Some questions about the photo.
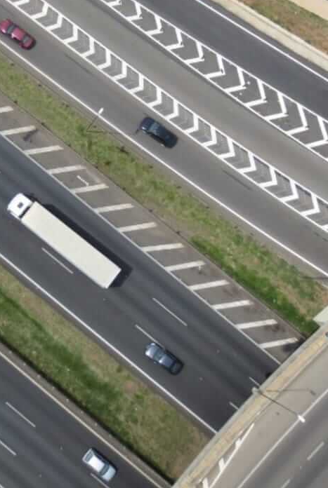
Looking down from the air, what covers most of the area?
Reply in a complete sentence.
The bulk of the photo consists of paved ground.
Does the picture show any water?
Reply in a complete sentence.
No, there is no water in the image.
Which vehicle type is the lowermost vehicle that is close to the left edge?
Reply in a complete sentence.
What you see as the lowermost vehicle that is close to the left edge is a truck.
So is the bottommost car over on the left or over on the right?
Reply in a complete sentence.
You can find the bottommost car on the left side of the picture.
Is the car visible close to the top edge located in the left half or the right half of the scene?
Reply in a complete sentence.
It is on the left.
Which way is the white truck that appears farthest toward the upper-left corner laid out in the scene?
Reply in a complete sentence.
The white truck that appears farthest toward the upper-left corner is oriented on a diagonal.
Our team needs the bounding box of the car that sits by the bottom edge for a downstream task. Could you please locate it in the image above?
[82,447,116,481]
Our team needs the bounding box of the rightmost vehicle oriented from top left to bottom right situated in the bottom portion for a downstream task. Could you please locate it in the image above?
[146,341,183,375]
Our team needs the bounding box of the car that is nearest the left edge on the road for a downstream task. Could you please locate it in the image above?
[0,18,35,50]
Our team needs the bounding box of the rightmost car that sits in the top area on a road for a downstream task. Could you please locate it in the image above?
[139,116,178,148]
